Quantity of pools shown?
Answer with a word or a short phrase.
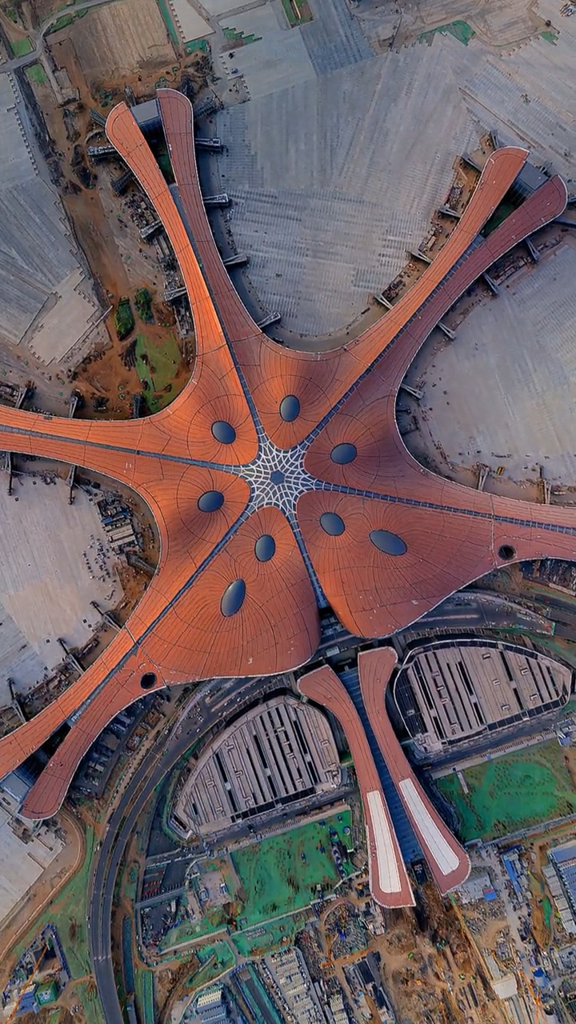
0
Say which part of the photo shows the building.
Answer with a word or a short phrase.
center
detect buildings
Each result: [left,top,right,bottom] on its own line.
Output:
[0,88,576,820]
